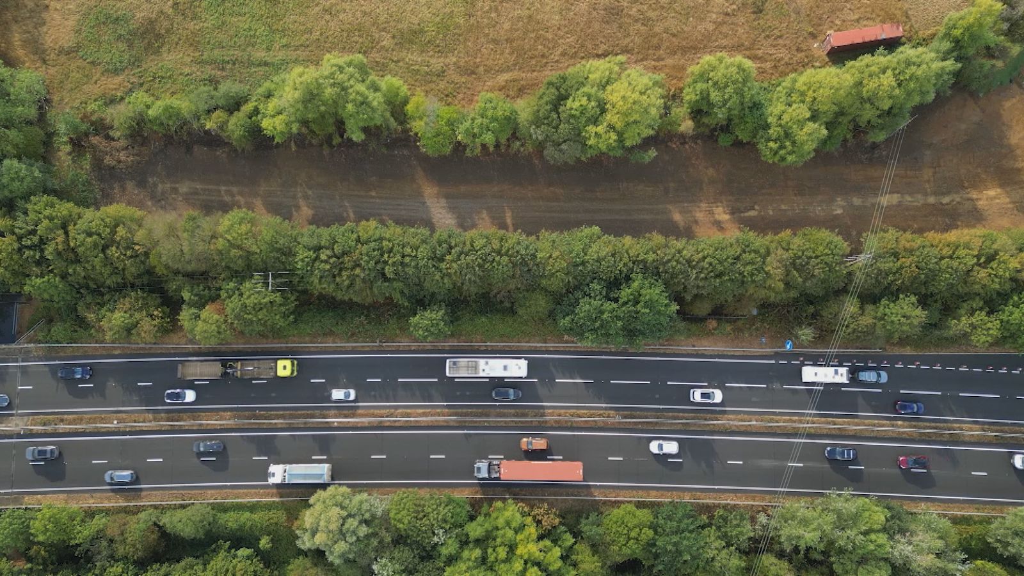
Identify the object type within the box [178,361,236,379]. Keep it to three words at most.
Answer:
trailer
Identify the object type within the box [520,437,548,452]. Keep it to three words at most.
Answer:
car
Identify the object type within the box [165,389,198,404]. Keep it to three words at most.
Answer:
car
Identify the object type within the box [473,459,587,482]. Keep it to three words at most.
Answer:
truck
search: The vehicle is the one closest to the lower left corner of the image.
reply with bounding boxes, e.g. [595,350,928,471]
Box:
[27,446,62,461]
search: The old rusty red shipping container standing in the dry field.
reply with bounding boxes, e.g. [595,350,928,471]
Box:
[824,24,907,54]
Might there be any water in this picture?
No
